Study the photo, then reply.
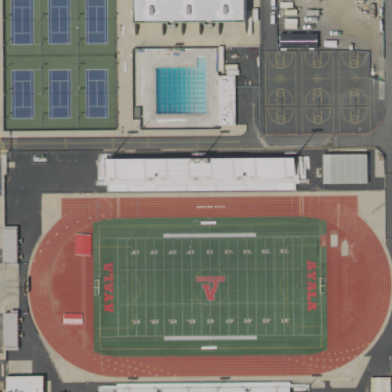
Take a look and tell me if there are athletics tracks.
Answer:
Yes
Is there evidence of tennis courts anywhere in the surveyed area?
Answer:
Yes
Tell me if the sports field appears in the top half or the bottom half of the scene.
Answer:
bottom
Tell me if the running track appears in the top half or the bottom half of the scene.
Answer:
bottom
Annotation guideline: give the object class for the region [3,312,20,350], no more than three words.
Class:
building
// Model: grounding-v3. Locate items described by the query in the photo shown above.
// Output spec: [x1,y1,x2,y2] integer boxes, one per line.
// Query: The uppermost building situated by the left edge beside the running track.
[2,227,20,264]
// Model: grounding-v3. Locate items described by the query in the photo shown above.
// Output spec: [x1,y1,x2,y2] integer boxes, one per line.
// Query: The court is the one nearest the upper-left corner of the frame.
[12,0,34,45]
